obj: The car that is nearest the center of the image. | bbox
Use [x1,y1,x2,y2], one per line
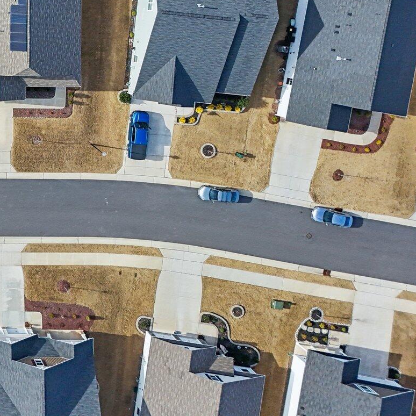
[197,184,240,204]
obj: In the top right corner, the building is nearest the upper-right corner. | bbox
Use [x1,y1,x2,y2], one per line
[277,0,416,132]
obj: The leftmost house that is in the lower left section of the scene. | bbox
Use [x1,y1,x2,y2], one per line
[0,325,101,416]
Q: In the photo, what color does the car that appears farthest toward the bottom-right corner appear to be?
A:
blue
